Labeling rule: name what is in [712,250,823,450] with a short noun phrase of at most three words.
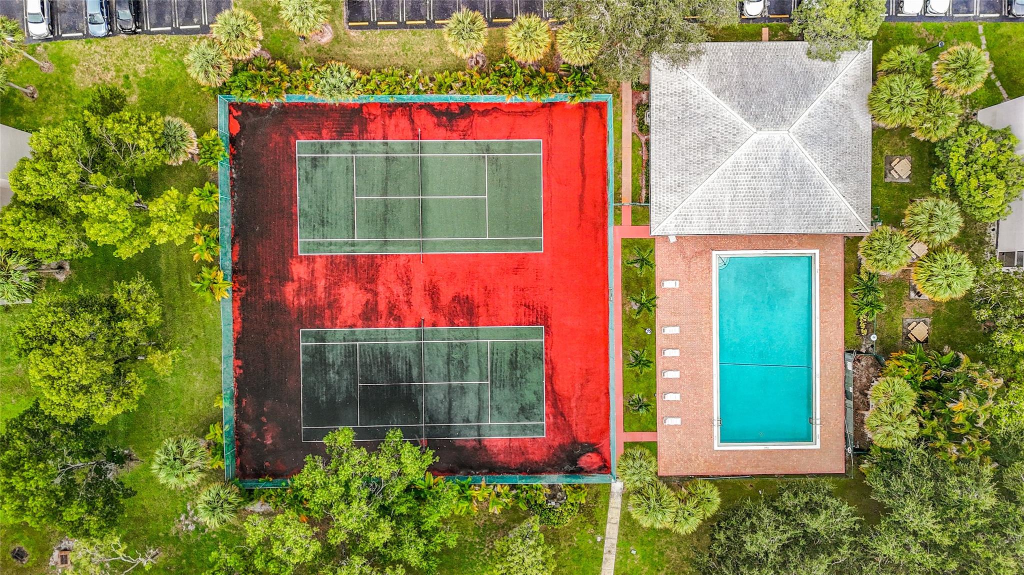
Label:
swimming pool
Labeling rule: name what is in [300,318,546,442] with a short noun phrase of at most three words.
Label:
tennis court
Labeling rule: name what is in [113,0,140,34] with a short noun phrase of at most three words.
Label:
car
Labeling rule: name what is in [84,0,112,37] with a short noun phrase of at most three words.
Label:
car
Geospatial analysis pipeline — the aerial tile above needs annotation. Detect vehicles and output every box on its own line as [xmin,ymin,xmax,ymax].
[1011,0,1024,17]
[113,0,140,34]
[900,0,923,14]
[23,0,52,38]
[84,0,112,37]
[742,0,764,17]
[927,0,950,14]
